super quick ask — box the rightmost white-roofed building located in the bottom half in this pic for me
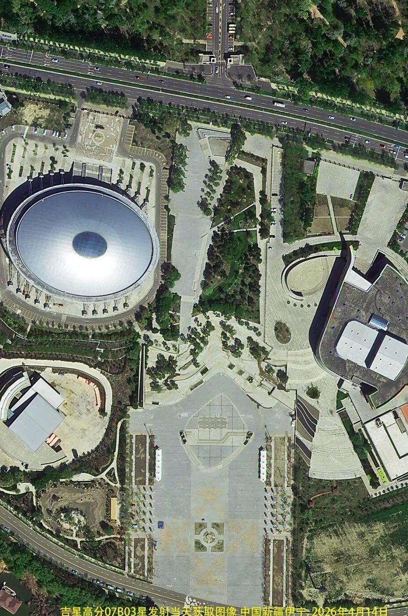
[363,403,408,482]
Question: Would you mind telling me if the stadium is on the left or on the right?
left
